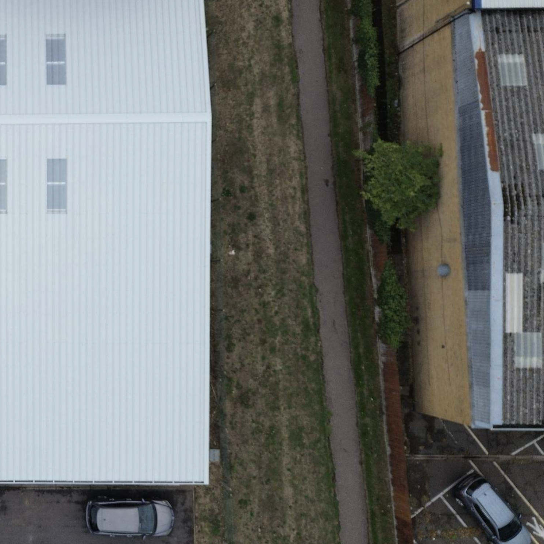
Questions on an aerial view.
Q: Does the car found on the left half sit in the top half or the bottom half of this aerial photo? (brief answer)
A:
bottom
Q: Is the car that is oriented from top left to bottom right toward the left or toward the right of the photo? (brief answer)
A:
right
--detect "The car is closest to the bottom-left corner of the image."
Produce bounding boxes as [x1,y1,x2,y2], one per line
[84,496,174,544]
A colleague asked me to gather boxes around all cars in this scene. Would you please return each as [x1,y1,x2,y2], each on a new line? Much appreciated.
[84,496,174,544]
[451,465,531,544]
